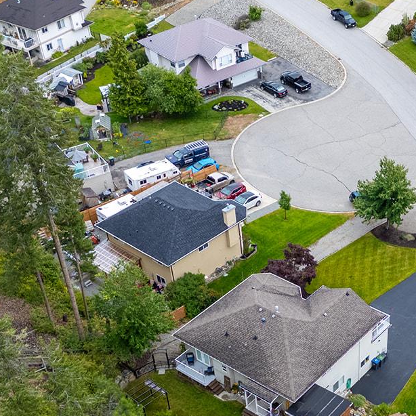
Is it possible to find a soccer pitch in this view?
No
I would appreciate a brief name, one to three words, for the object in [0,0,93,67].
house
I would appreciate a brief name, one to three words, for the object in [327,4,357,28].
truck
